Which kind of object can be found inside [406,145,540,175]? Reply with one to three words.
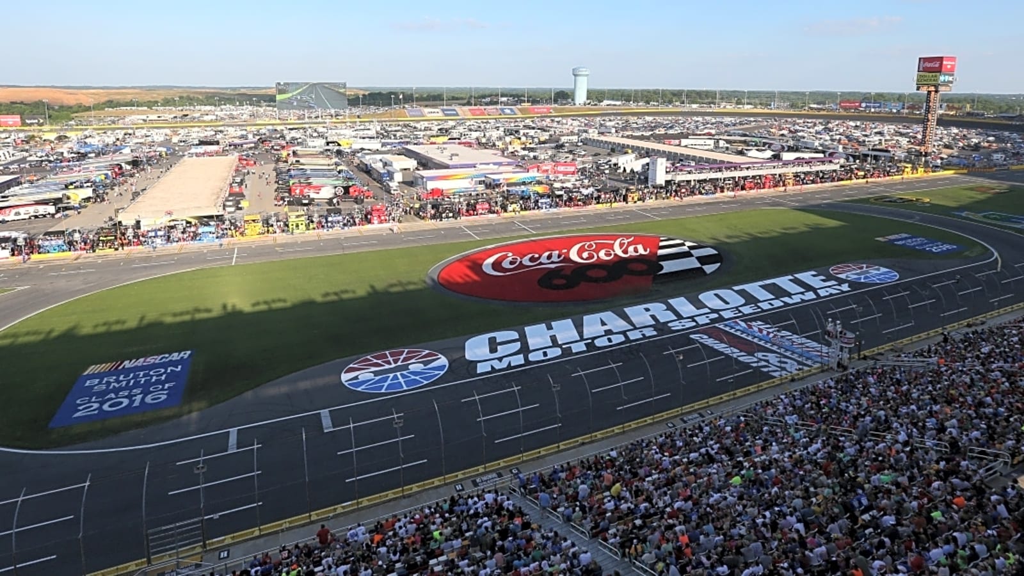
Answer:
building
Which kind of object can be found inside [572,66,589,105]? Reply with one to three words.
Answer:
water tower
